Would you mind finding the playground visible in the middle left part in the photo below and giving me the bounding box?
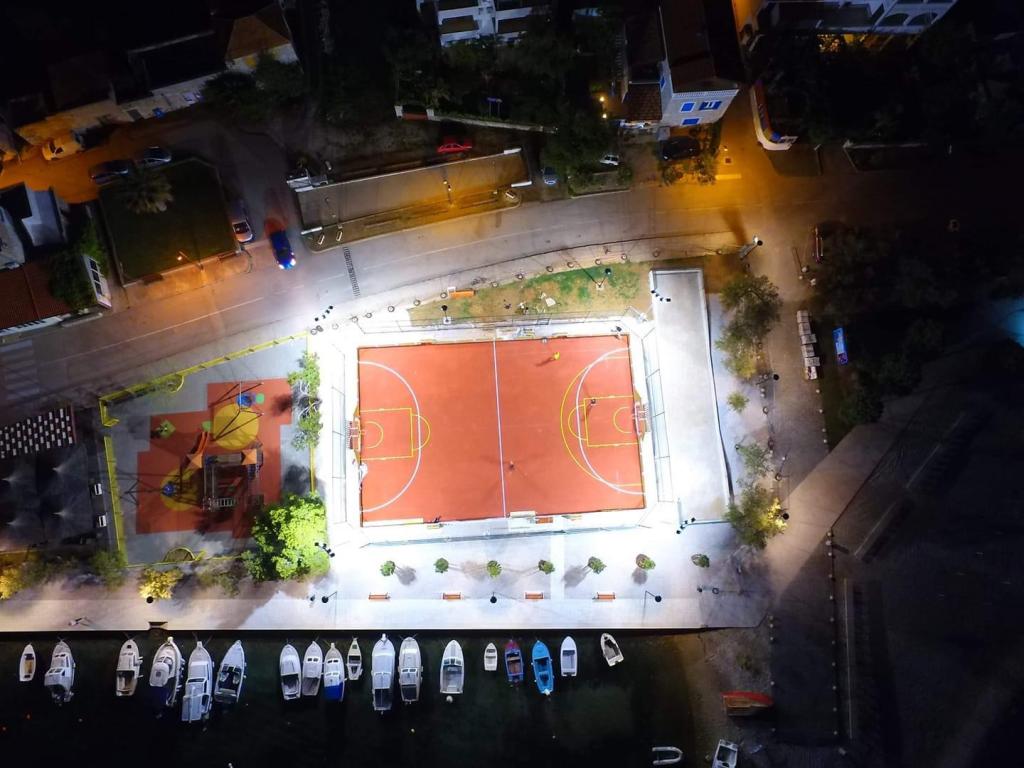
[99,335,318,564]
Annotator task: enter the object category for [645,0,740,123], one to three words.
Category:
house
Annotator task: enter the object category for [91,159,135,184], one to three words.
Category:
car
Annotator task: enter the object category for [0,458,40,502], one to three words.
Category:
umbrella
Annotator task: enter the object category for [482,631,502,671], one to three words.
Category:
boat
